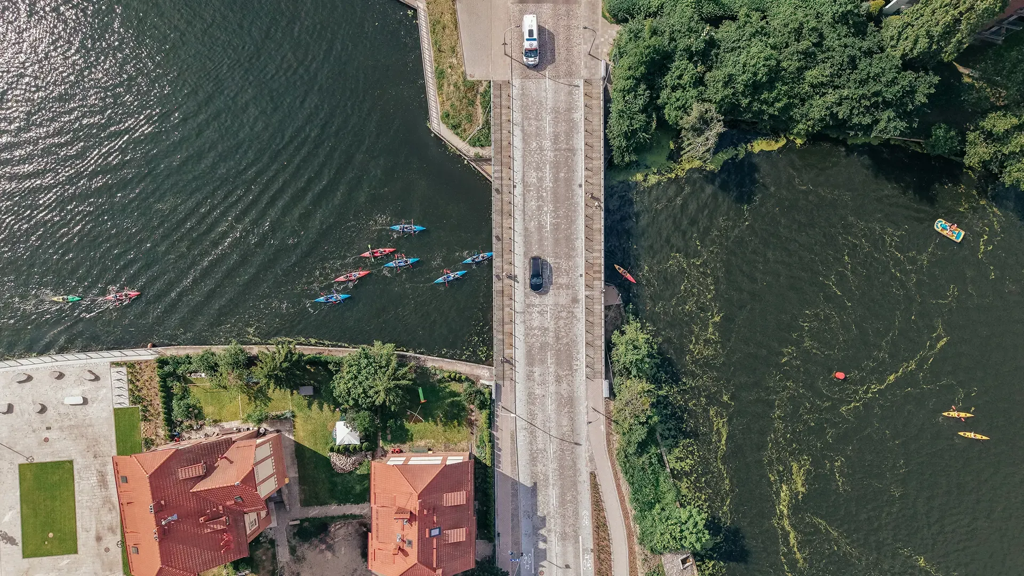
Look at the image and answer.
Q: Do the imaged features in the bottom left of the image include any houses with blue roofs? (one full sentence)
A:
No, I see no house with a blue roof in the bottom left of the image.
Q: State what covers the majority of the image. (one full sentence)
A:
Most of the picture is covered by water.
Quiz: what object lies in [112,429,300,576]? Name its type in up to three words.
house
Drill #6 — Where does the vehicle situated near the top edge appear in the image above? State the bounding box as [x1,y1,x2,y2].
[523,11,540,63]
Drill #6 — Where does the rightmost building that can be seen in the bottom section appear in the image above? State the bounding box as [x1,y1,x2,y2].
[370,450,475,576]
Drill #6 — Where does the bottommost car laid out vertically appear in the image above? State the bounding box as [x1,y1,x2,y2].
[529,256,544,292]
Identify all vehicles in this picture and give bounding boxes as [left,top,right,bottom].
[523,11,540,63]
[529,256,544,292]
